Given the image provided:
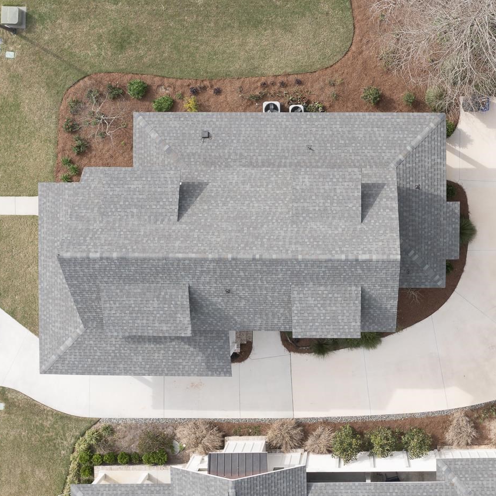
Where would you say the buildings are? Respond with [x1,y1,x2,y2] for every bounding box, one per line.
[69,436,496,496]
[38,111,460,378]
